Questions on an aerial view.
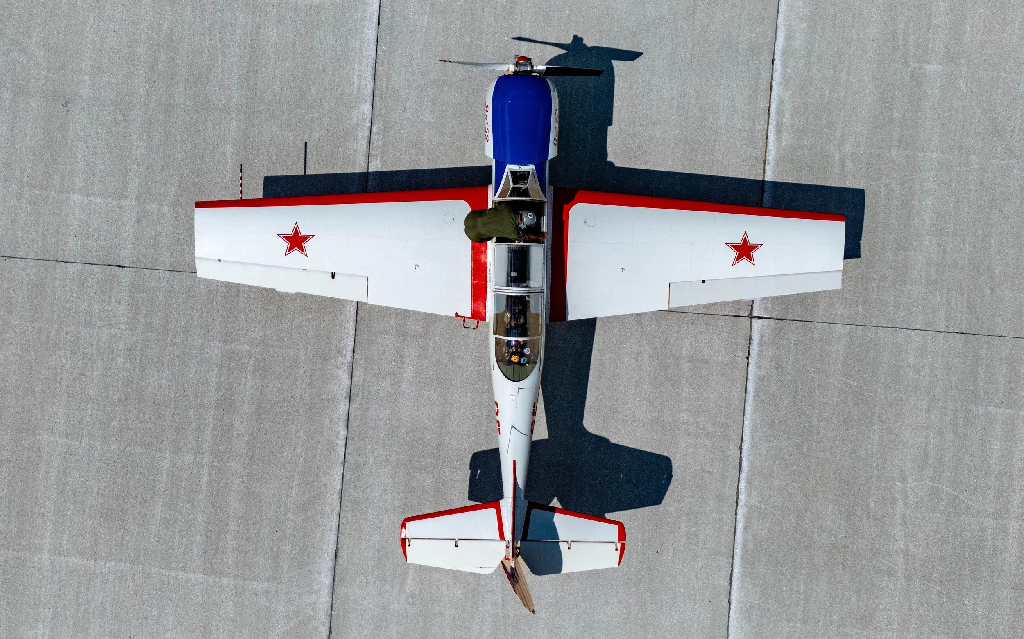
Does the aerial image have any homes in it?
No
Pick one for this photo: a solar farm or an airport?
airport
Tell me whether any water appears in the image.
No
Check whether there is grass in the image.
No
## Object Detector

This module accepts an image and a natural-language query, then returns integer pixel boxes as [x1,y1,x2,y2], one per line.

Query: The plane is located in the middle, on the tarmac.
[194,50,844,617]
